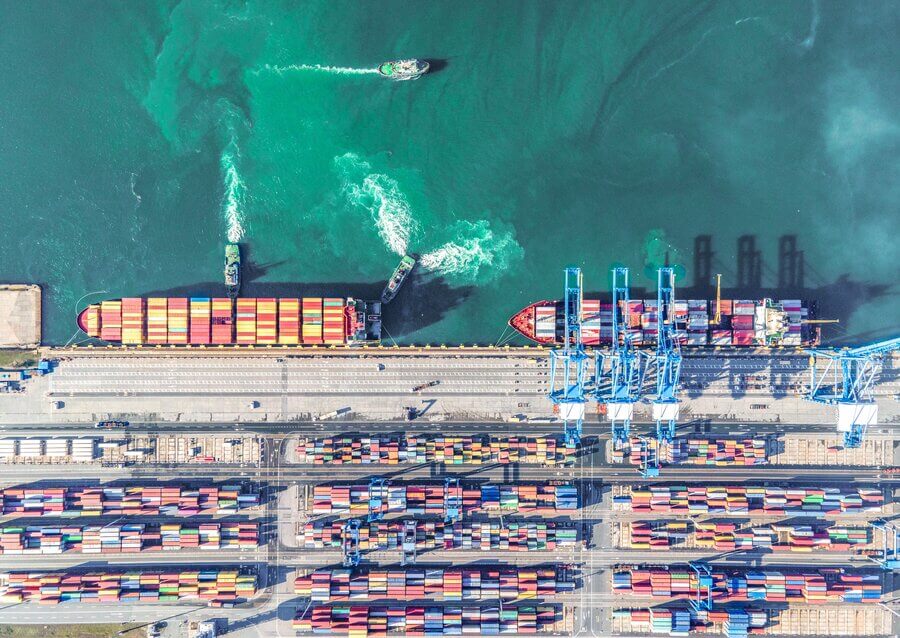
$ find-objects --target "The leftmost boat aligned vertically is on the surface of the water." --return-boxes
[224,244,242,297]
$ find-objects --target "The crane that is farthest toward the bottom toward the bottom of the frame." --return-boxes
[687,560,712,611]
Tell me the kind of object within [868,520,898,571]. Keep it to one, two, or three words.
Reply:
crane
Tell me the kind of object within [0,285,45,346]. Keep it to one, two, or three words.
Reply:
pier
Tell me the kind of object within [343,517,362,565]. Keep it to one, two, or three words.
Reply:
crane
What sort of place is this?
port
